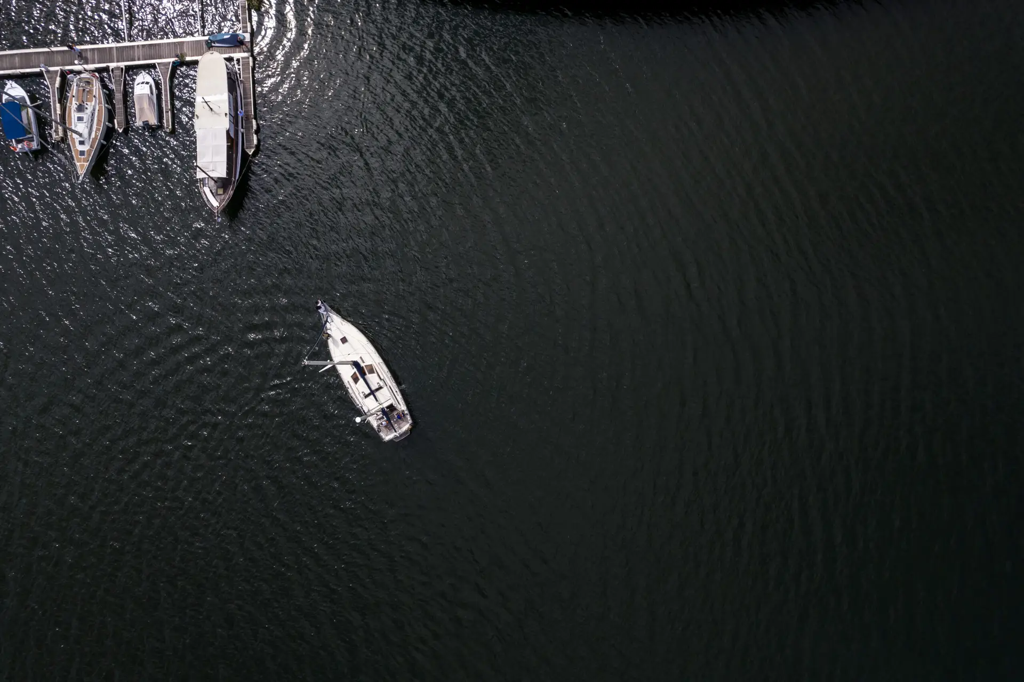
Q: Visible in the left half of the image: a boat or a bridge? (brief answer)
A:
boat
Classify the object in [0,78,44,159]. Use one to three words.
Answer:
boat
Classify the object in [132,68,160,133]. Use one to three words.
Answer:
boat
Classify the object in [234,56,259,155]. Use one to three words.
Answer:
pier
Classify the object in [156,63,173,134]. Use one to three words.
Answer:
pier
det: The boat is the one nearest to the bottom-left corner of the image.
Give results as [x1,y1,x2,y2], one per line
[303,301,413,441]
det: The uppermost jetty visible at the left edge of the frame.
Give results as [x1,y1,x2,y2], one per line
[0,33,250,78]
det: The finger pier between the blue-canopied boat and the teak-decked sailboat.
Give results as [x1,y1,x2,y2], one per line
[43,71,65,141]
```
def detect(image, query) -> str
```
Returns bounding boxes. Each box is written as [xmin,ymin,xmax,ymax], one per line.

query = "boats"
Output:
[303,301,413,441]
[194,52,243,220]
[0,60,109,182]
[132,68,160,133]
[0,78,44,159]
[208,32,244,47]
